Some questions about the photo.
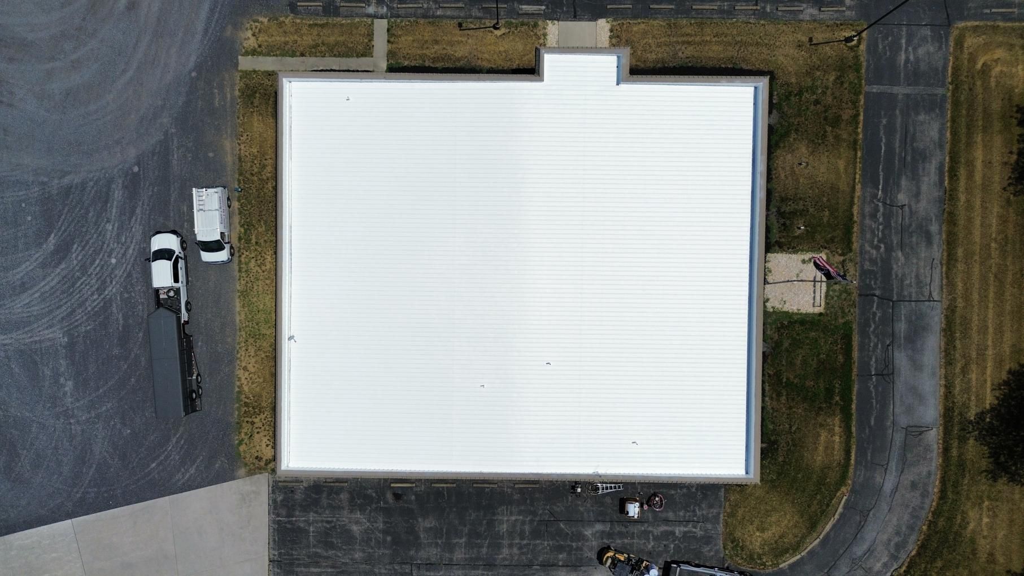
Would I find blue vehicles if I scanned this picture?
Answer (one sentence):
No, this view has no blue vehicle in it.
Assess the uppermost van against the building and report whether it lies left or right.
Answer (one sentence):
The building has the uppermost van on its left side.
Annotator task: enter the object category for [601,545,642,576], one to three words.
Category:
work vehicle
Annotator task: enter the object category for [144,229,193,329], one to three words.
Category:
truck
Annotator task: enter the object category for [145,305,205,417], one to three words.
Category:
trailer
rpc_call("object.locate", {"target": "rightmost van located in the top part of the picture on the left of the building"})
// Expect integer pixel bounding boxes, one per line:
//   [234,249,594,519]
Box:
[190,188,235,266]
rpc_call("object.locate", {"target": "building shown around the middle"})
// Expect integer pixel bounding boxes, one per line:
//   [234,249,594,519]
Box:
[275,46,769,484]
